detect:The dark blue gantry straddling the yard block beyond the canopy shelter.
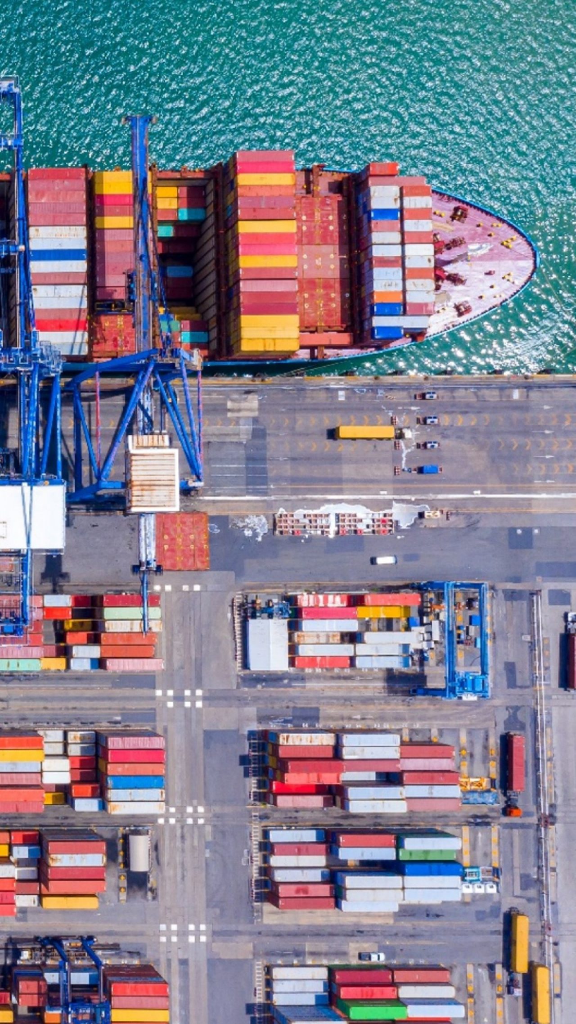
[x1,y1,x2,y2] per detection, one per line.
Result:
[44,931,108,1024]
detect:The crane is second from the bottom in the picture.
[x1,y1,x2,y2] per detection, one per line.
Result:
[401,579,491,706]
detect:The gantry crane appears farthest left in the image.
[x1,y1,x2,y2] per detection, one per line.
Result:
[0,73,64,638]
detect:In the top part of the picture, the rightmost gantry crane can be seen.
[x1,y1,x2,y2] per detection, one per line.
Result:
[56,119,205,632]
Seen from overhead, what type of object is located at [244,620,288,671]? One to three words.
shed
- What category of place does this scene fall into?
port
